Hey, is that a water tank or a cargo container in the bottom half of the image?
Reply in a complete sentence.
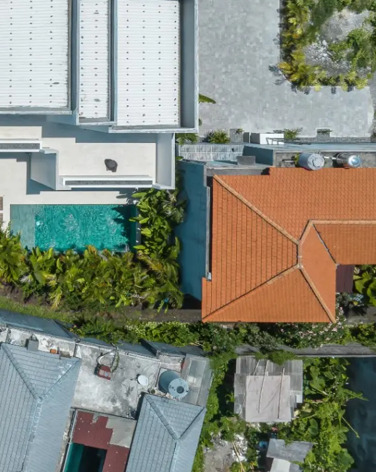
Looking in the bottom half of the image, you will find a water tank.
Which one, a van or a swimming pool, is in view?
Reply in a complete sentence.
There is a swimming pool in the scene.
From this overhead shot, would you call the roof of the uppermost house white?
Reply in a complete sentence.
No, from above the roof of the uppermost house looks orange.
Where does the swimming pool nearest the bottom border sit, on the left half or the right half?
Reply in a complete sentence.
The swimming pool nearest the bottom border sits on the left side.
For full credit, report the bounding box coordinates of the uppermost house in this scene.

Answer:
[182,166,376,324]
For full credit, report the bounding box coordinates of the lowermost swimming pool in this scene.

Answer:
[9,205,136,253]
